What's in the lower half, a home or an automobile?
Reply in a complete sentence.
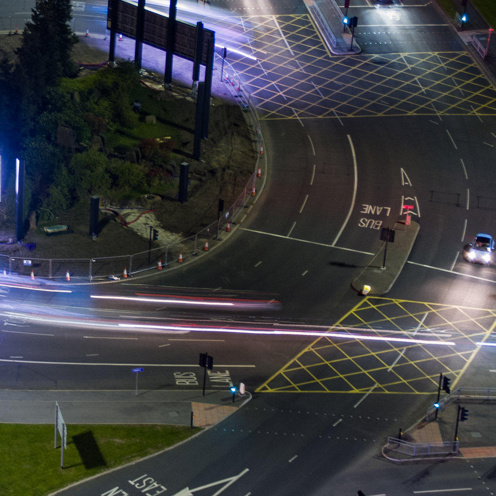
The one visible in the lower half is an automobile.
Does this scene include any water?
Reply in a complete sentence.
No, there is no water in the image.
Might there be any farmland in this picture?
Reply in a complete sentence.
No, the scene doesn't show any farmland.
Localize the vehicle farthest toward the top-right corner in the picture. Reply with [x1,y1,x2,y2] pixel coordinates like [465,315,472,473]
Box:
[470,223,496,259]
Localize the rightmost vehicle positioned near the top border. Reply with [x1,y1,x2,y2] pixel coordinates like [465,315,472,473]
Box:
[214,18,249,44]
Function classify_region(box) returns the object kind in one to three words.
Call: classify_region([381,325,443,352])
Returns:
car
